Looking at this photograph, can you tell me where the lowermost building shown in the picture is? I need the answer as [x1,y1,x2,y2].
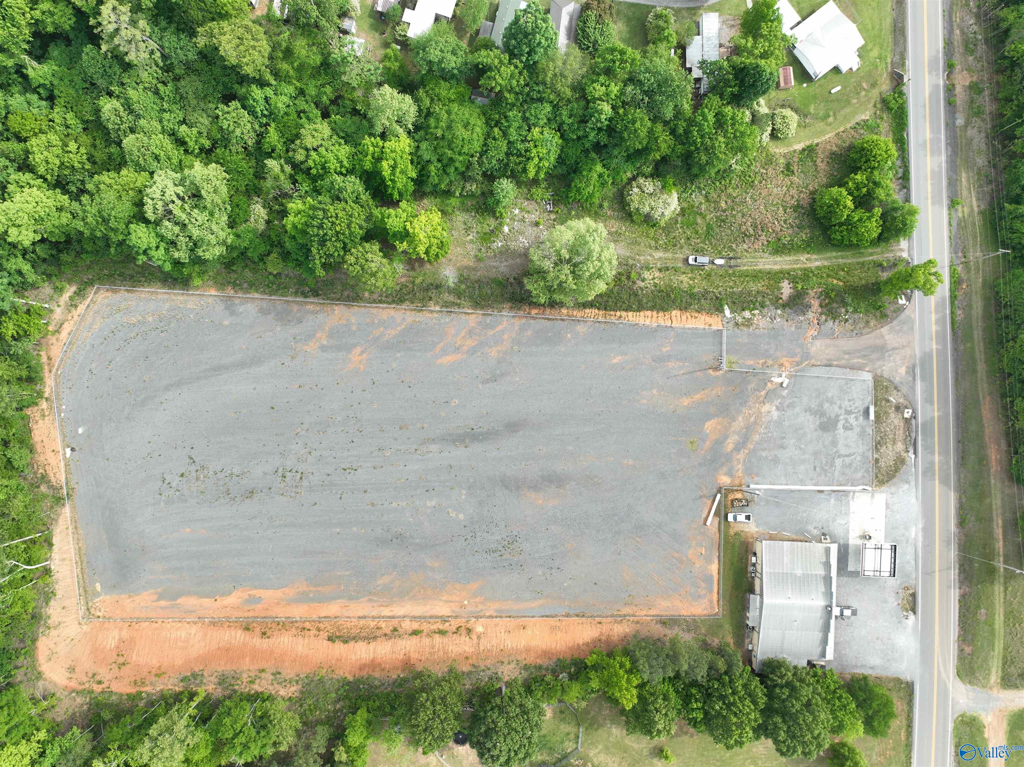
[745,538,838,673]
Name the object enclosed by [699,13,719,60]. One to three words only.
house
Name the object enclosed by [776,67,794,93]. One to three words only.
shed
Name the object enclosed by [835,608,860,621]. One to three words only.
vehicle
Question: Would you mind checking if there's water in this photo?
No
